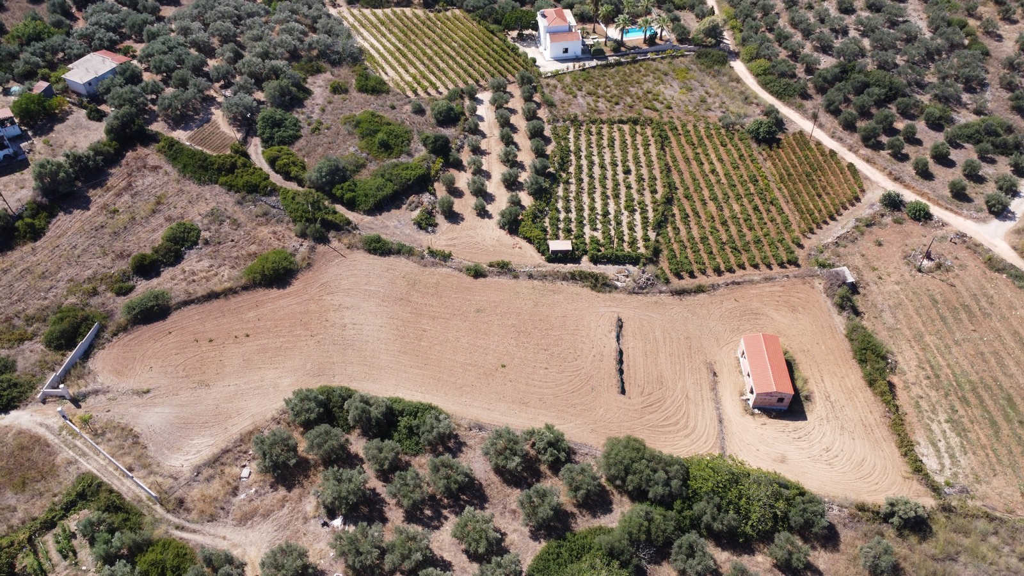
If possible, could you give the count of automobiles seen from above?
zero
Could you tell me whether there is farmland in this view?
Yes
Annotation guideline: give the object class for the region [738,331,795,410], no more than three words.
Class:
building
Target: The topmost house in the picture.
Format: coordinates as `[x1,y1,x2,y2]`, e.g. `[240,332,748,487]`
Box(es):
[530,8,584,58]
